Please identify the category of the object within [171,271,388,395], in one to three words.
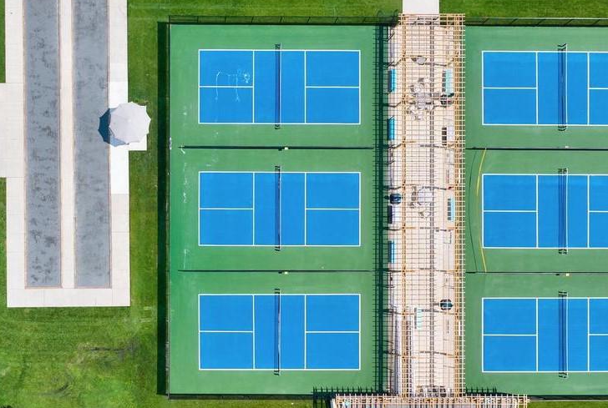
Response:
sports court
